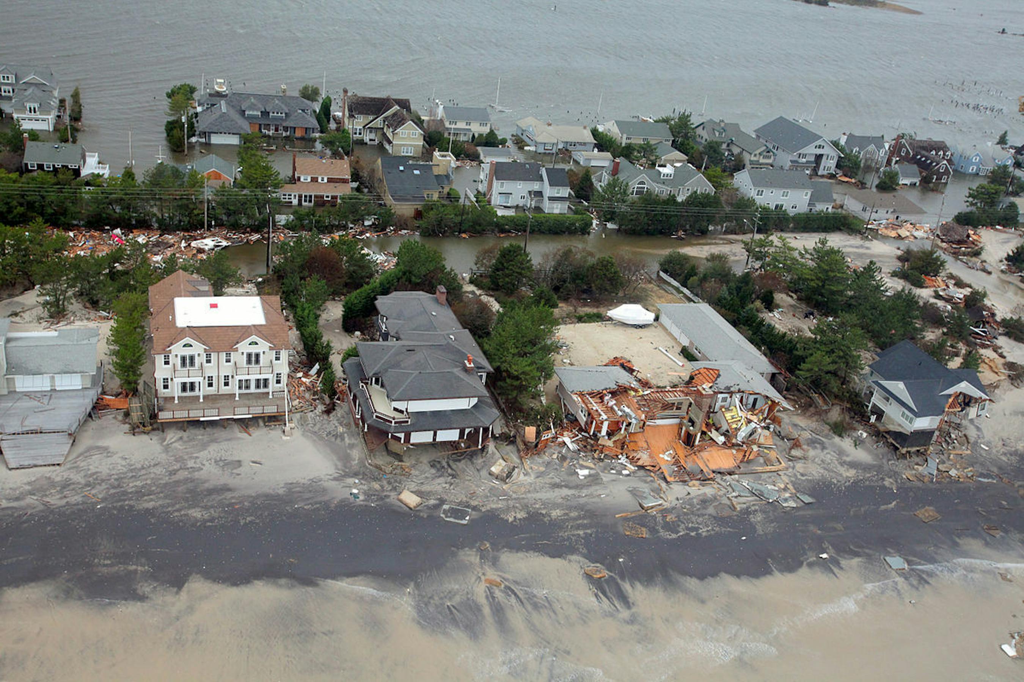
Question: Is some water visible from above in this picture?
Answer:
Yes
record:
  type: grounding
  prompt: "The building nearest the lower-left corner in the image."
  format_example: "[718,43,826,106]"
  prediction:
[0,317,102,471]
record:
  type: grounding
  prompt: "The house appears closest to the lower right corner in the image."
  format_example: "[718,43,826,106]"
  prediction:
[870,340,989,451]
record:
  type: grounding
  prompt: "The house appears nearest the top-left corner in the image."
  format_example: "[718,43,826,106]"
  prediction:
[0,64,57,131]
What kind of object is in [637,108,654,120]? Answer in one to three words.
boat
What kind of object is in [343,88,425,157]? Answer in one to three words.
house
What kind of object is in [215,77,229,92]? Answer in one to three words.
boat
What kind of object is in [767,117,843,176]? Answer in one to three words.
house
